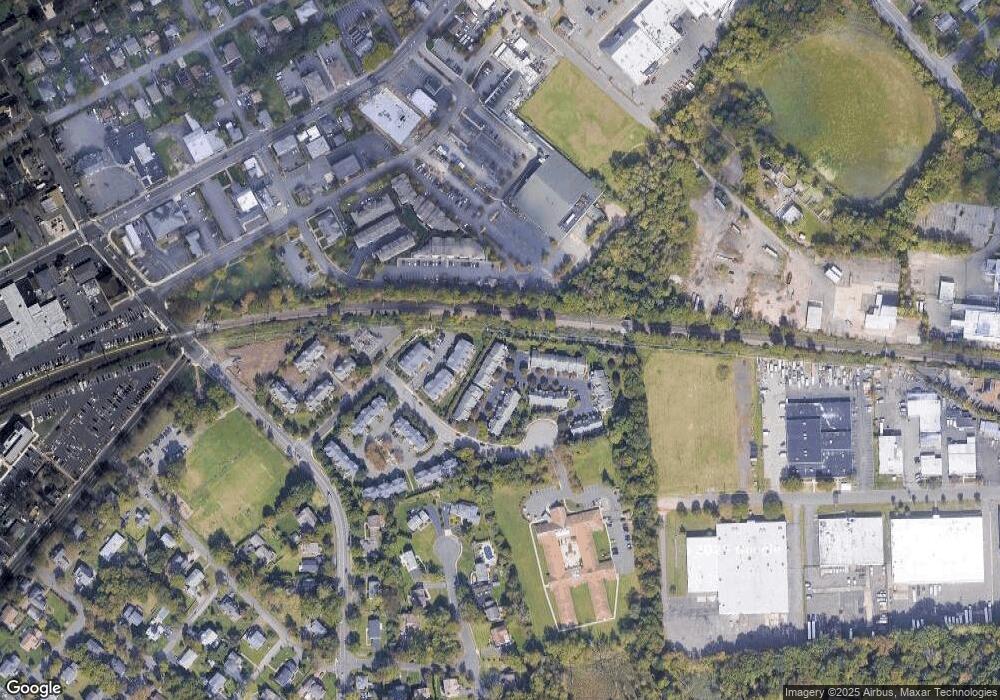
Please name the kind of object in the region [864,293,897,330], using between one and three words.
building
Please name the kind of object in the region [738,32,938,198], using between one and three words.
sports field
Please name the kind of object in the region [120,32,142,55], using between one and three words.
house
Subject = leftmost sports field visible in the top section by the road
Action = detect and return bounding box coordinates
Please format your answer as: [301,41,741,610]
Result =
[519,59,654,174]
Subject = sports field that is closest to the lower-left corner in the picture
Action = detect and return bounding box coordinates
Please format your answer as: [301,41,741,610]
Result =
[181,408,292,540]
